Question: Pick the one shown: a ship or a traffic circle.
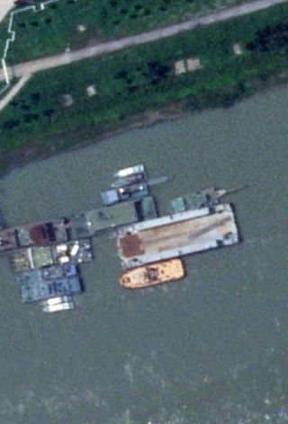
ship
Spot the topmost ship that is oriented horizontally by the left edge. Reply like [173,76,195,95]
[12,238,93,272]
